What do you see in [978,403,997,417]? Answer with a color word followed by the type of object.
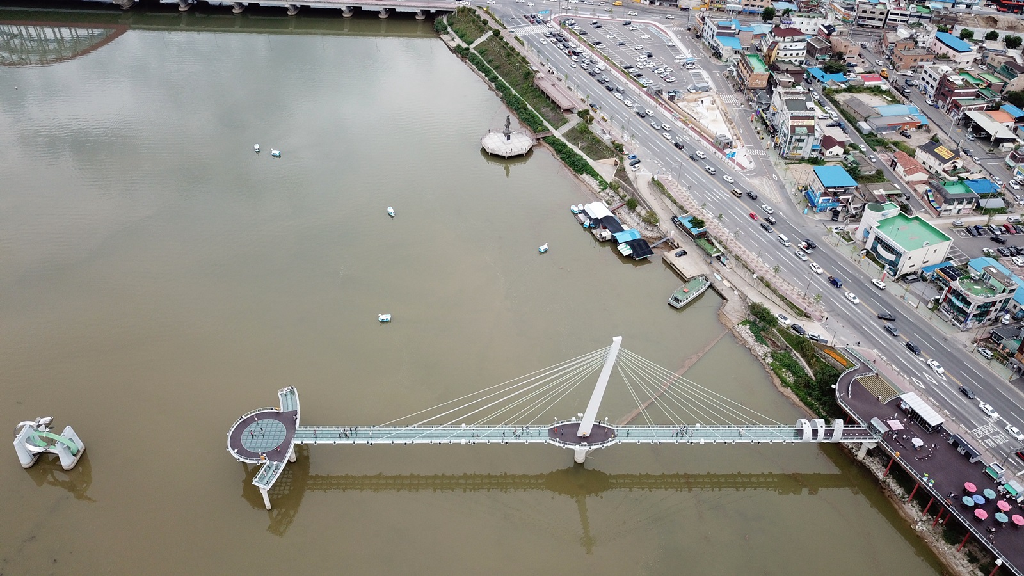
white car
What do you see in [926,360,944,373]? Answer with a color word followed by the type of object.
white vehicle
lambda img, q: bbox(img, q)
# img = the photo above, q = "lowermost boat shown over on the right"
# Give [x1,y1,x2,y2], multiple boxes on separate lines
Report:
[663,273,707,305]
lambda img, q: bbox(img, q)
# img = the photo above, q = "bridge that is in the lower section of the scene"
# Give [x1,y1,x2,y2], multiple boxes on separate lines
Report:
[225,334,880,512]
